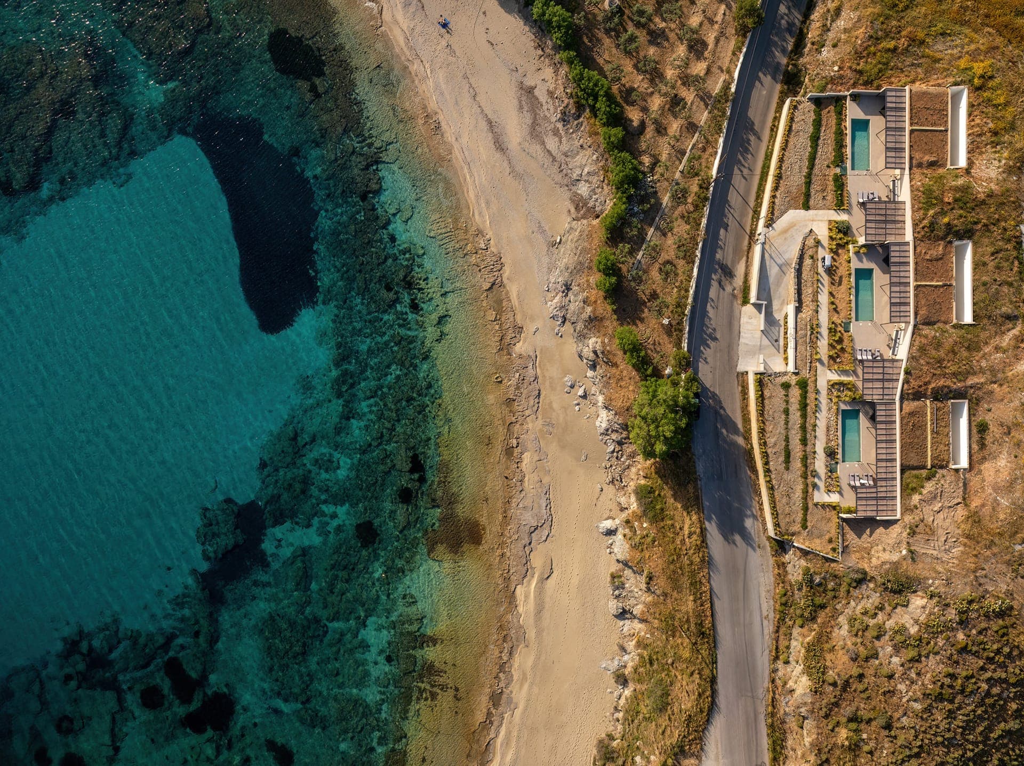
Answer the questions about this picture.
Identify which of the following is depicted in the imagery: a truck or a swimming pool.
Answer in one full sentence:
The image shows a swimming pool.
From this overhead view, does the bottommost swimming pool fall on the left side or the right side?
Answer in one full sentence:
You can find the bottommost swimming pool on the right side of the picture.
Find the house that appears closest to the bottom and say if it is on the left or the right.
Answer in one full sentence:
The house that appears closest to the bottom is on the right side of the image.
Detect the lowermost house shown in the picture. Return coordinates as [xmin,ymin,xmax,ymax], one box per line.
[831,399,901,520]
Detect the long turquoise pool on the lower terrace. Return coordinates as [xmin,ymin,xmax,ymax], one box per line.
[841,408,862,466]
